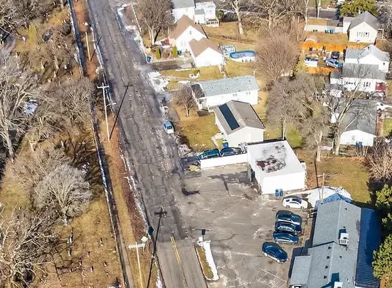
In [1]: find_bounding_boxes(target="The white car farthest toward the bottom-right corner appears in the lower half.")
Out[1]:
[282,197,309,209]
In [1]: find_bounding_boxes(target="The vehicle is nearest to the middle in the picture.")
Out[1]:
[198,149,221,161]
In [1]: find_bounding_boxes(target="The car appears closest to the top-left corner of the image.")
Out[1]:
[163,119,175,133]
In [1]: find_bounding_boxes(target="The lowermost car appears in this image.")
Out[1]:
[260,244,290,262]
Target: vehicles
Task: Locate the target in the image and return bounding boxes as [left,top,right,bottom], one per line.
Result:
[219,148,243,158]
[331,50,340,61]
[366,90,388,100]
[260,244,290,262]
[274,209,302,225]
[372,99,392,111]
[163,119,175,133]
[271,231,300,245]
[274,219,302,235]
[198,149,221,161]
[282,197,309,209]
[323,59,342,69]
